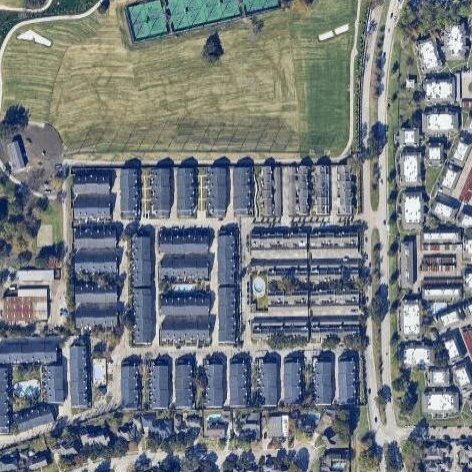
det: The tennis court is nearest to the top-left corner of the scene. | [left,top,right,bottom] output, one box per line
[128,0,169,40]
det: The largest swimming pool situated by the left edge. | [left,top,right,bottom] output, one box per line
[15,381,39,402]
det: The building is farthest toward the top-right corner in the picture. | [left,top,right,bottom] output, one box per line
[445,24,468,59]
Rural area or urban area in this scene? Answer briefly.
urban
